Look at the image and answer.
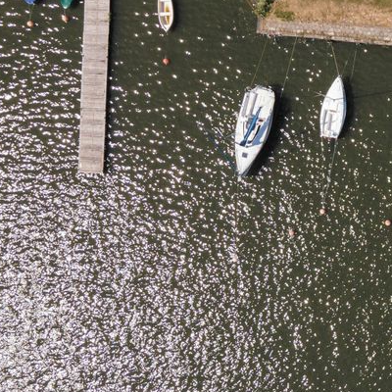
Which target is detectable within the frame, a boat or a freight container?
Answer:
boat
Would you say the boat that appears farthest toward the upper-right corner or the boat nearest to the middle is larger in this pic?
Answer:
the boat nearest to the middle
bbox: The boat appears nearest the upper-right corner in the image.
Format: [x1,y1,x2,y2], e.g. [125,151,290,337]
[316,75,346,142]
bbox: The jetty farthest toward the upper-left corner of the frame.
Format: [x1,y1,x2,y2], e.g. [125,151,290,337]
[78,0,111,175]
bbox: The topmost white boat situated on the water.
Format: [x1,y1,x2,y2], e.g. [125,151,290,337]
[156,0,174,33]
